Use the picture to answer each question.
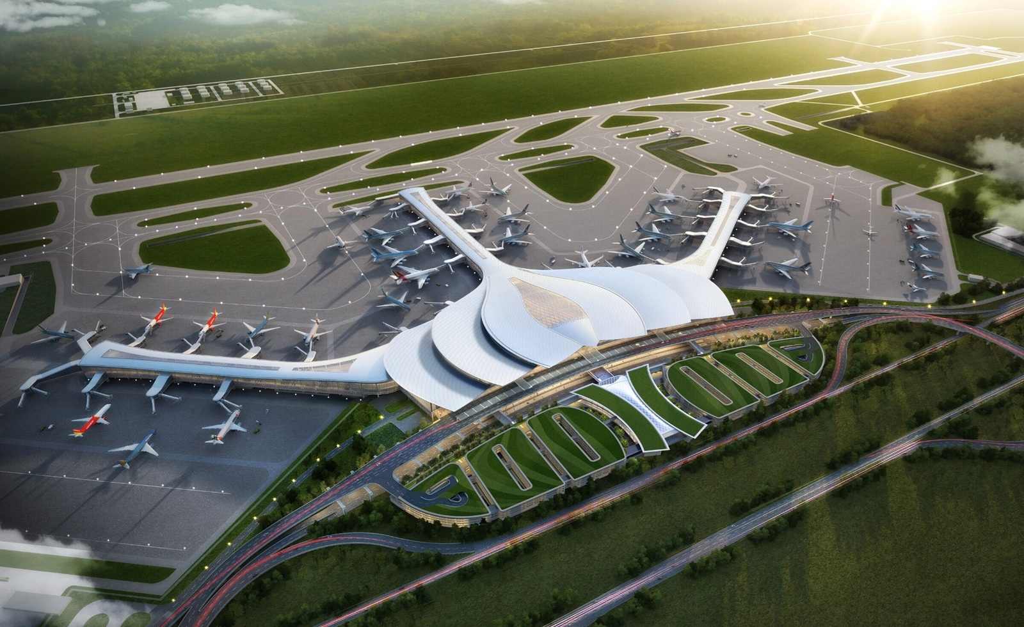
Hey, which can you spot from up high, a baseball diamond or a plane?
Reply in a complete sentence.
The image shows a plane.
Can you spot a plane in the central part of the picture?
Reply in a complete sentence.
Yes, in the central part of the picture there is a plane.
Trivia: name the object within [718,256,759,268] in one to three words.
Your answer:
jet bridge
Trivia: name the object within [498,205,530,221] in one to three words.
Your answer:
airplane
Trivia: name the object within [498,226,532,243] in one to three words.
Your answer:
airplane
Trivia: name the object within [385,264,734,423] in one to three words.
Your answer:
building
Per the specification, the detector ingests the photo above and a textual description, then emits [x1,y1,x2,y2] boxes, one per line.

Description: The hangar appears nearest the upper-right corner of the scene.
[980,225,1024,255]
